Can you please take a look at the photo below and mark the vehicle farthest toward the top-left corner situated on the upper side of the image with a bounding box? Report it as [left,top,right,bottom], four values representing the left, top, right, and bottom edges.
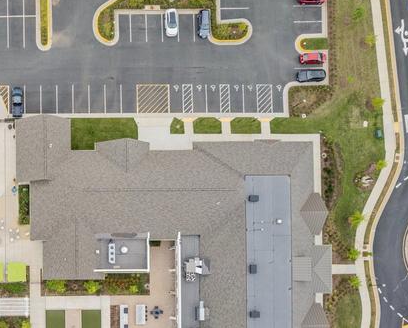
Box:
[11,86,24,119]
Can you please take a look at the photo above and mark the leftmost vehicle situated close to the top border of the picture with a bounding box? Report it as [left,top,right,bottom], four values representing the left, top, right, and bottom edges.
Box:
[164,8,179,39]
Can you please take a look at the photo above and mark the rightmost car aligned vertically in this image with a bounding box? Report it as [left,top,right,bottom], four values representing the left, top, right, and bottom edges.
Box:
[197,8,211,40]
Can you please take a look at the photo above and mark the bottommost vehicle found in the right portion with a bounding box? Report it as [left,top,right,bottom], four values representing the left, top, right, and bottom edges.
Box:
[294,68,325,83]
